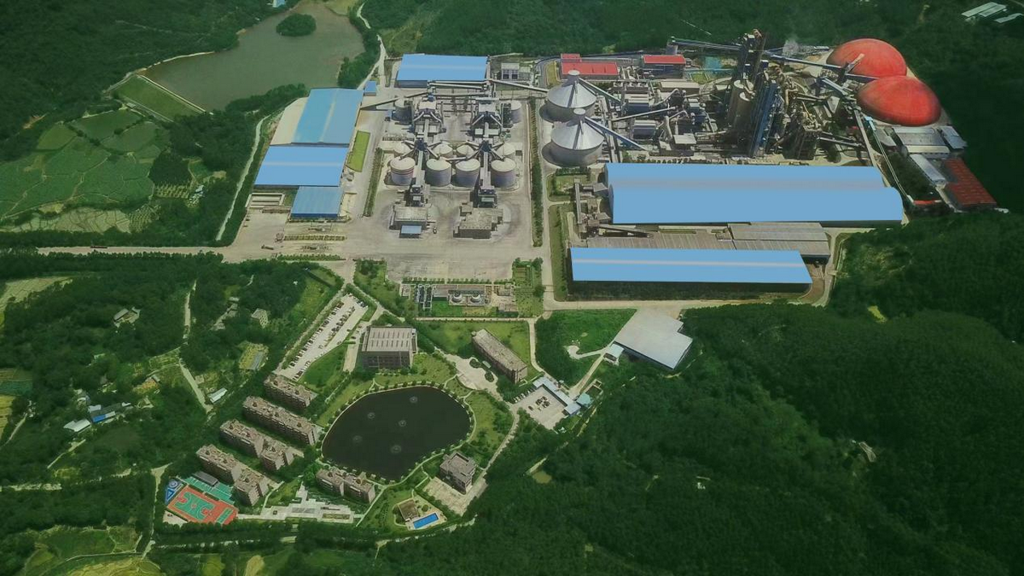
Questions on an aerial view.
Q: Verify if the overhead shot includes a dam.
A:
Yes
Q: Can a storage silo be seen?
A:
Yes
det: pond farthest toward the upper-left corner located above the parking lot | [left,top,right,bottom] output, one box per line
[134,0,364,114]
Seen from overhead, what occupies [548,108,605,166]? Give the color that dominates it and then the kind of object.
gray silo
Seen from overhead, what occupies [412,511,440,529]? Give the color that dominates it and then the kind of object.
blue swimming pool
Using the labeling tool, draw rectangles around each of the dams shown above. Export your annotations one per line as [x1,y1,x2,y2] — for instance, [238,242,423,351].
[116,73,211,121]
